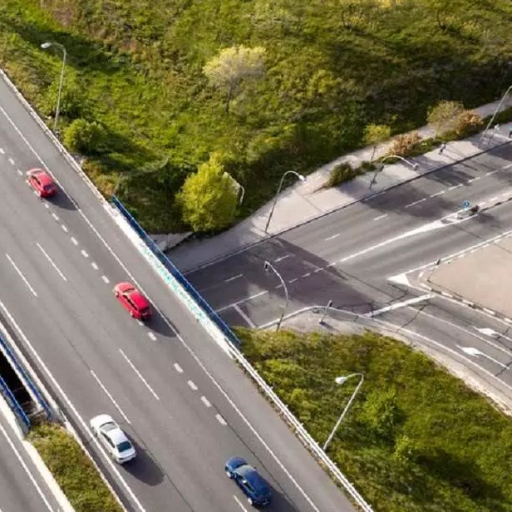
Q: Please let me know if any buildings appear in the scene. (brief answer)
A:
No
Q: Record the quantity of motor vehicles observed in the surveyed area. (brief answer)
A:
4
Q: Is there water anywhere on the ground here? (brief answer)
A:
No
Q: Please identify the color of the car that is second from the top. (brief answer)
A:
red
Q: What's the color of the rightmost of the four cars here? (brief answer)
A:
blue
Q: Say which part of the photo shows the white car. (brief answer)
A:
bottom left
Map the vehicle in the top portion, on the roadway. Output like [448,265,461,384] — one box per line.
[26,170,56,198]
